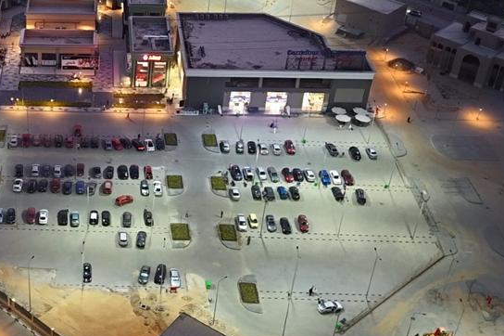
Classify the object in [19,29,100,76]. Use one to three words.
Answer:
building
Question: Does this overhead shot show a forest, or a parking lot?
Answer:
parking lot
